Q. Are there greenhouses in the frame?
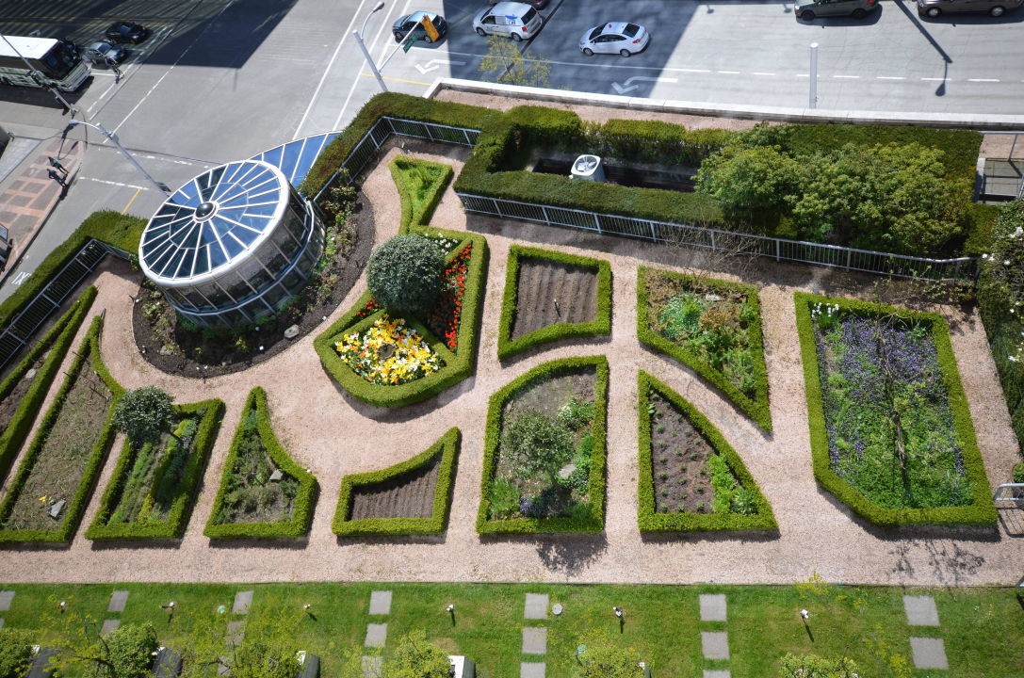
Yes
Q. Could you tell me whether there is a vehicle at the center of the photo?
No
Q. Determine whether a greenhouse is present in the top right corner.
No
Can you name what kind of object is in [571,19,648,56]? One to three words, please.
car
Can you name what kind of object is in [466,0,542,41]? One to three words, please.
vehicle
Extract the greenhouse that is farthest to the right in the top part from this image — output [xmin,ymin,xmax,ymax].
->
[141,156,325,329]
